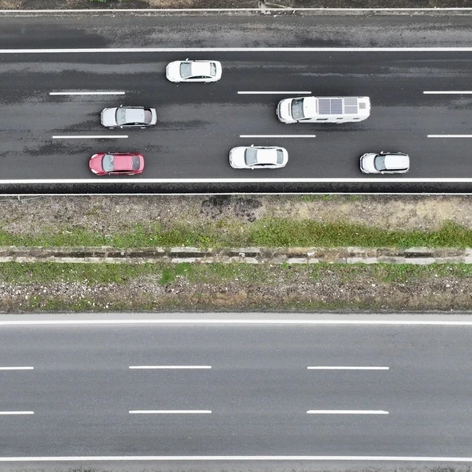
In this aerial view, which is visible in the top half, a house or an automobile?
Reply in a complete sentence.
The one visible in the top half is an automobile.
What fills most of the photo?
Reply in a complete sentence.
The largest share of the image is taken up by paved ground.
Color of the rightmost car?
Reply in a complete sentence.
In this view, the rightmost car is white.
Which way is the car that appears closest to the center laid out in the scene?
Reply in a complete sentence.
In this picture, the car that appears closest to the center is oriented horizontally.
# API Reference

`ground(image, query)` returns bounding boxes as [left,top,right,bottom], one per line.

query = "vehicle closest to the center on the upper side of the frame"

[227,143,289,170]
